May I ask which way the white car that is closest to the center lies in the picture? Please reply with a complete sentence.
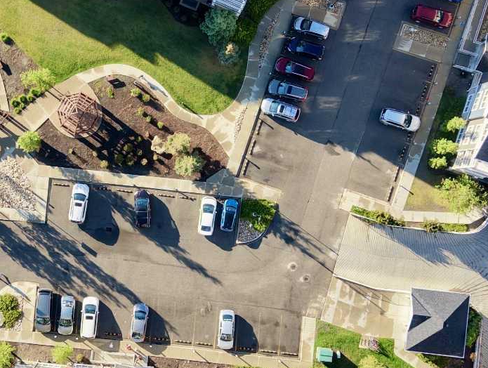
The white car that is closest to the center has been laid out from top to bottom relative to the frame.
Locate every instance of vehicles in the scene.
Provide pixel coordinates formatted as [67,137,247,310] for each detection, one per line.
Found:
[69,183,90,225]
[378,108,423,134]
[56,295,76,335]
[259,98,302,123]
[219,198,239,233]
[197,195,218,236]
[267,78,311,103]
[216,308,235,350]
[133,189,152,229]
[130,303,149,344]
[409,4,454,28]
[33,288,54,333]
[274,57,317,82]
[80,296,100,340]
[291,17,332,41]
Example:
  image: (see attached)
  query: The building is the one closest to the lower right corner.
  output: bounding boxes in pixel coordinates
[405,288,471,359]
